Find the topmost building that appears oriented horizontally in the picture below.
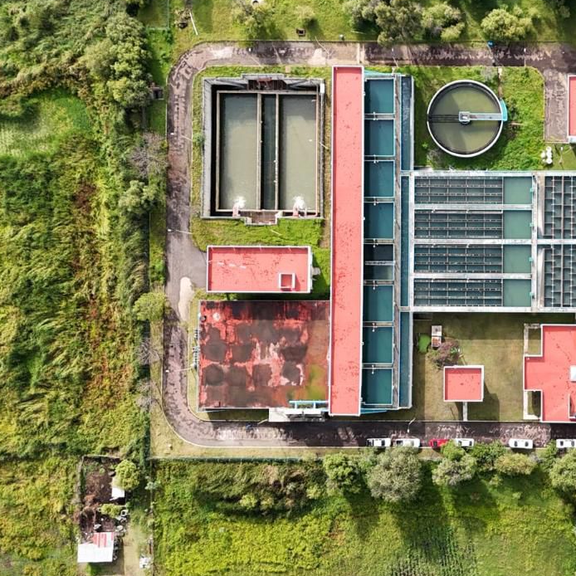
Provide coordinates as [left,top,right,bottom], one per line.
[208,245,321,293]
